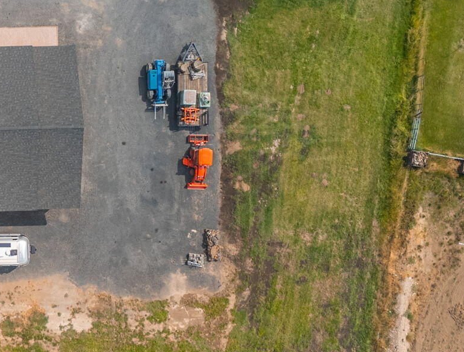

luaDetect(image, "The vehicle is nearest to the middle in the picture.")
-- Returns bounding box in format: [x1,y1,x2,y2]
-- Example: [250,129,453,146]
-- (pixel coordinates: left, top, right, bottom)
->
[185,134,215,191]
